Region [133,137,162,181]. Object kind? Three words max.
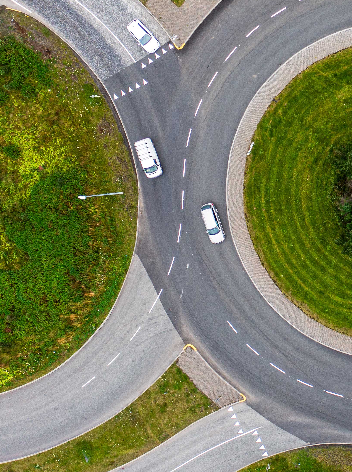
van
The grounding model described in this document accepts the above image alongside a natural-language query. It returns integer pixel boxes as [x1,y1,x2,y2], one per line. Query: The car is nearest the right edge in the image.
[199,202,225,245]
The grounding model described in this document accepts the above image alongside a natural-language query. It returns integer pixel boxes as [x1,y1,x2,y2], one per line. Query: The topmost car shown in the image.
[126,17,161,54]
